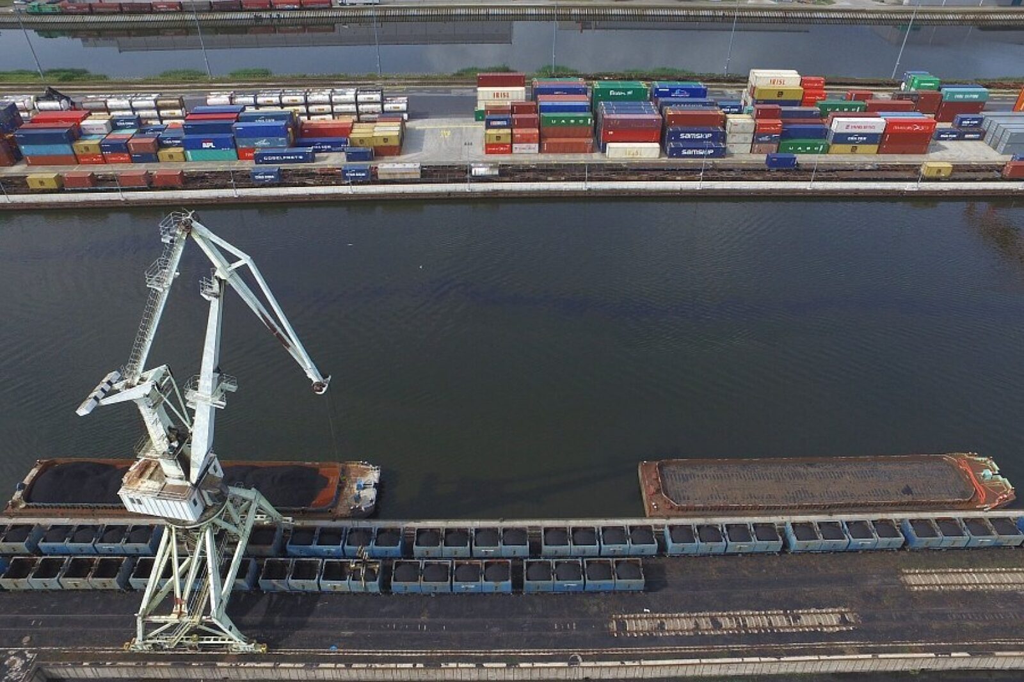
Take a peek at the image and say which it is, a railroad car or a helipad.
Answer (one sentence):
It is a railroad car that can be seen here.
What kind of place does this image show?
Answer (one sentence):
This image shows a port.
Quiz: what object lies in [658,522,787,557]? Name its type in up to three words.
rail car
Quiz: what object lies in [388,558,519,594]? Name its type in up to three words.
rail car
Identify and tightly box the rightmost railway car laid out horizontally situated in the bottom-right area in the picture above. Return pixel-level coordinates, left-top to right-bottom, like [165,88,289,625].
[900,520,1024,555]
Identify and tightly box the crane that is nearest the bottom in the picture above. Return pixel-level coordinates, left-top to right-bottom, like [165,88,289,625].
[75,205,362,652]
